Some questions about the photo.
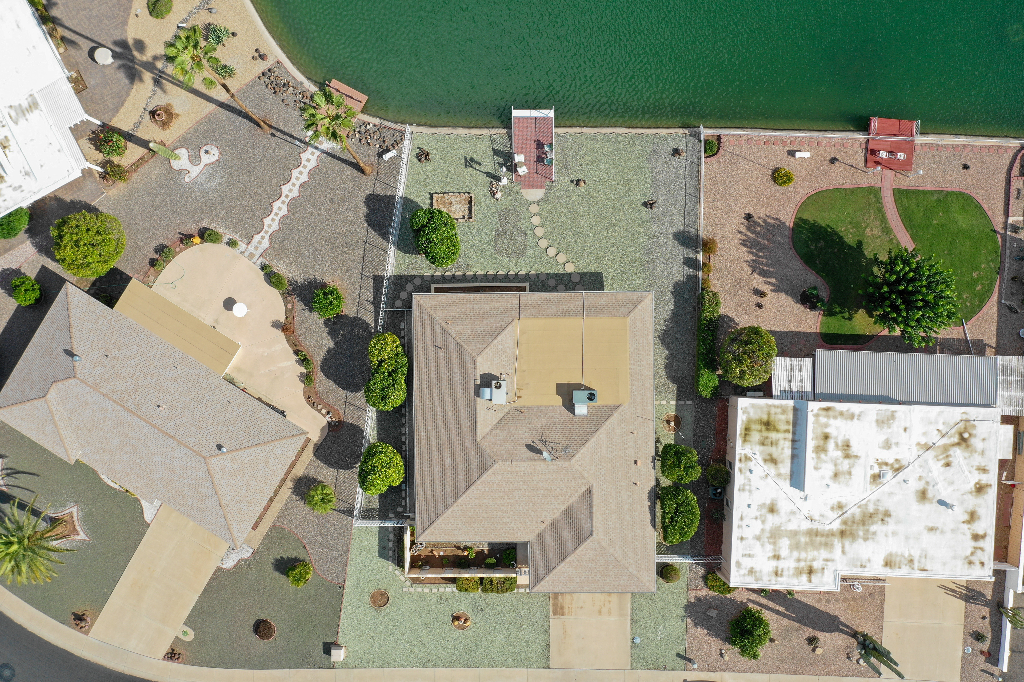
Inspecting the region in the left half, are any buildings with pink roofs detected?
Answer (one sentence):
No, looking in the left half, there is no building with a pink roof.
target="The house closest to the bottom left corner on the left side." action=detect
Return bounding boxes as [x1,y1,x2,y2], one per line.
[0,278,309,550]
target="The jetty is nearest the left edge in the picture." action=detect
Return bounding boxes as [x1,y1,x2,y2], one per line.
[311,78,368,131]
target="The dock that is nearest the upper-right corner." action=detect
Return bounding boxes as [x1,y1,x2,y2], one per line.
[866,115,921,170]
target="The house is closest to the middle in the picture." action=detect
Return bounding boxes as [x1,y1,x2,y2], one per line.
[410,289,658,595]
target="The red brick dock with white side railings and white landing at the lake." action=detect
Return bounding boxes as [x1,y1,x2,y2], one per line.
[512,101,555,201]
